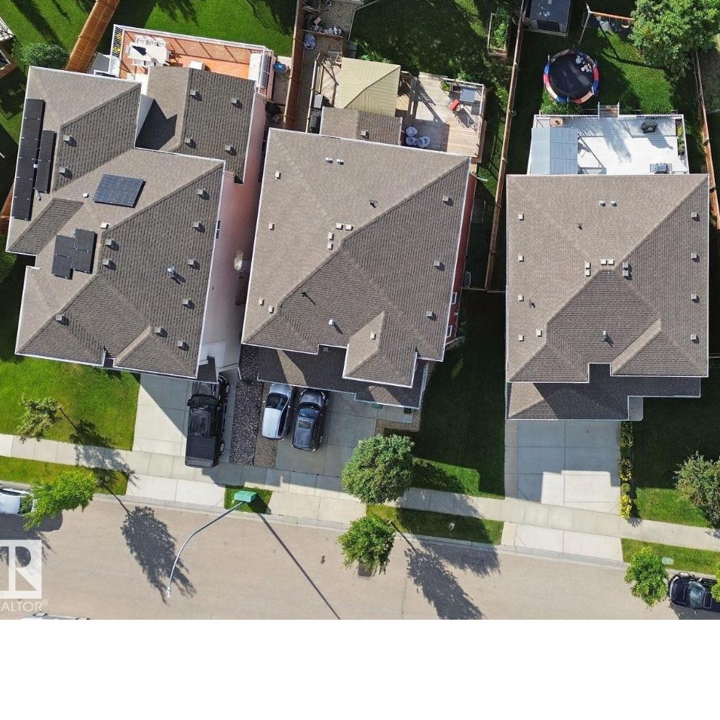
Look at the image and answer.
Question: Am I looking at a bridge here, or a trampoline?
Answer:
trampoline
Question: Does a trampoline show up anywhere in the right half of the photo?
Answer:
Yes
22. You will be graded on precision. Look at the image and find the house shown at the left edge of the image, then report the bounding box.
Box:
[4,66,273,384]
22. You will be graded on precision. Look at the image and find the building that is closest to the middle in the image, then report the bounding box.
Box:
[238,106,485,411]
